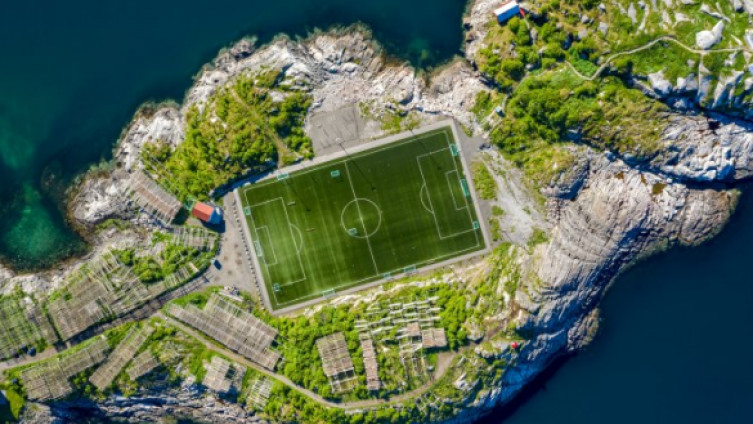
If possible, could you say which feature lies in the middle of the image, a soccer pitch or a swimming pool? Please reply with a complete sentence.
The feature located in the middle of the image is a soccer pitch.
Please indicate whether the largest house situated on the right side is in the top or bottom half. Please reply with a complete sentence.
The top half of the photo is where the largest house situated on the right side is.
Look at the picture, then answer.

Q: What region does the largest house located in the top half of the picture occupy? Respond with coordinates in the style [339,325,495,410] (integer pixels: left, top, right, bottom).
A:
[492,2,524,25]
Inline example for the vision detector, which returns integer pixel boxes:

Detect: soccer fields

[235,119,489,316]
